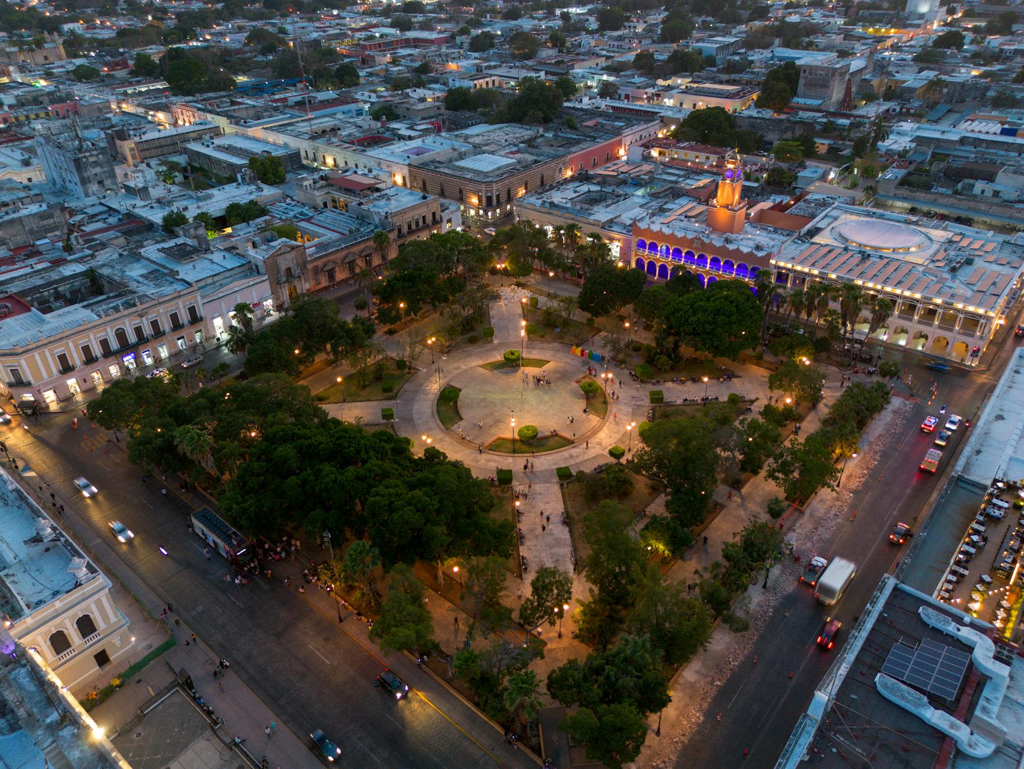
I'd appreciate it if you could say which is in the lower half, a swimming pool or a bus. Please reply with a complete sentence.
Looking in the lower half, you will find a bus.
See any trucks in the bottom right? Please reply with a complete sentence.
Yes, there is a truck in the bottom right.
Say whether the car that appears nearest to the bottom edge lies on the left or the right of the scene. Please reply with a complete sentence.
The car that appears nearest to the bottom edge sits on the left side.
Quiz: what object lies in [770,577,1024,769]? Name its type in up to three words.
building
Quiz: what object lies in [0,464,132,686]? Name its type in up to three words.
building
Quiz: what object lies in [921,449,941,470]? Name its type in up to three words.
vehicle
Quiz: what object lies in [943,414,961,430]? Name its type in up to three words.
car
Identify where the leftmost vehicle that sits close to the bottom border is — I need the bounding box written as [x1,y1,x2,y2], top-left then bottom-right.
[307,725,344,763]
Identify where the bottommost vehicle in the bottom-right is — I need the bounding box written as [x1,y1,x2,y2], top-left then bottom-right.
[817,619,842,647]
